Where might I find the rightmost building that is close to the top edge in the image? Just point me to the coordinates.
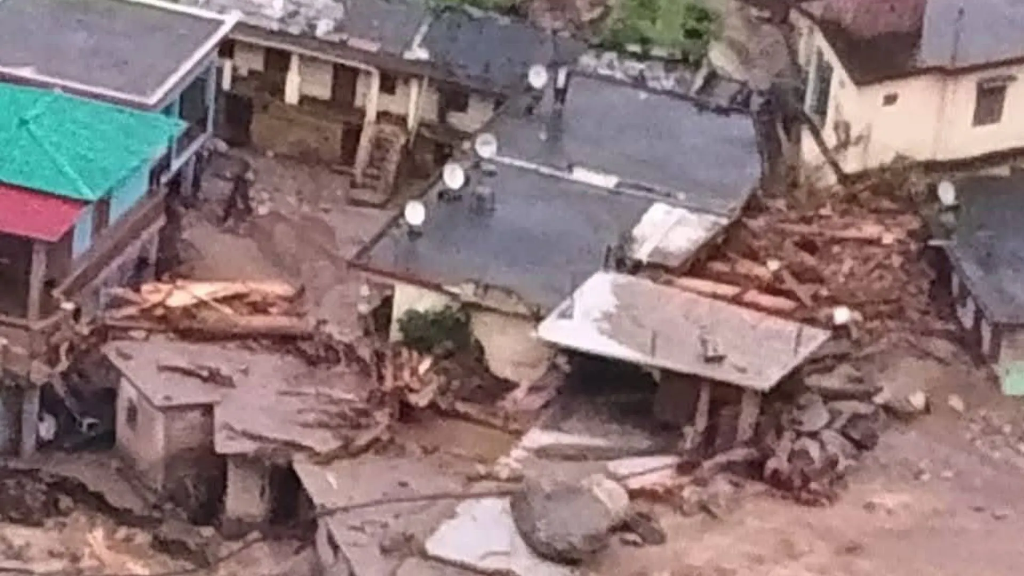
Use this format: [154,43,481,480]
[784,0,1024,178]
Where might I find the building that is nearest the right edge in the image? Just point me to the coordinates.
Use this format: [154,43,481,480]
[927,168,1024,394]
